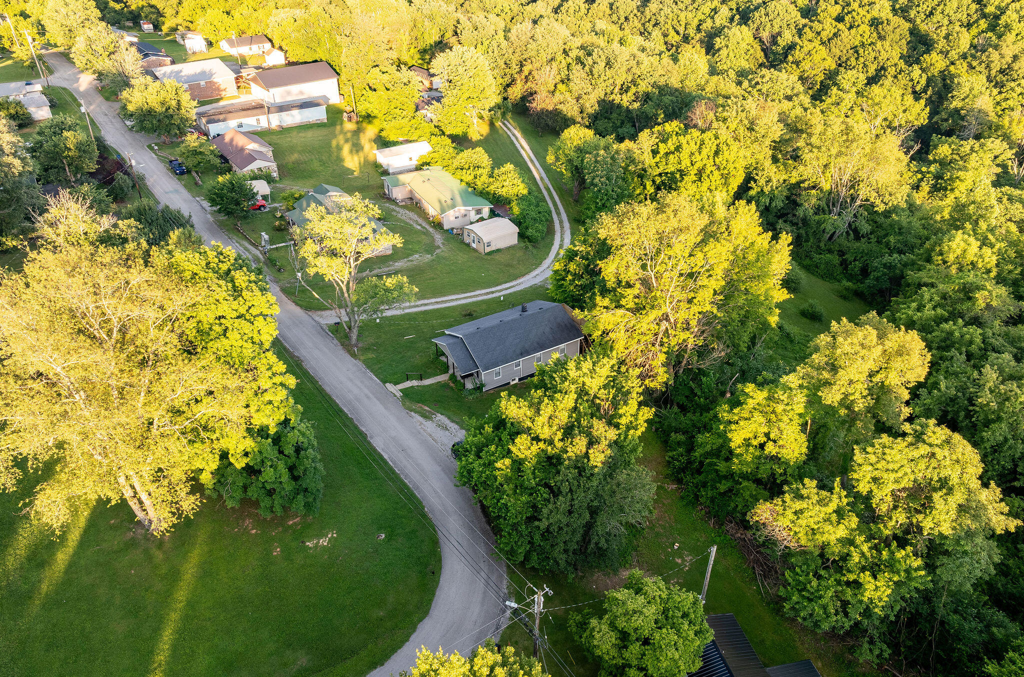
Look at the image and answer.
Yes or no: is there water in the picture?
No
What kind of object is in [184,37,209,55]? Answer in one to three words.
shed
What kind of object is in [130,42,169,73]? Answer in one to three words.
house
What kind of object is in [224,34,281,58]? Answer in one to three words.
house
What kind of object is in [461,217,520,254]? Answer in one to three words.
building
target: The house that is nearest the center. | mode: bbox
[428,300,585,392]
